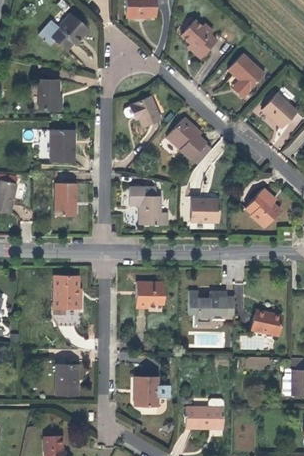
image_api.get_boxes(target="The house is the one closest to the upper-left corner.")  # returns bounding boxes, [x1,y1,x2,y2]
[38,13,90,52]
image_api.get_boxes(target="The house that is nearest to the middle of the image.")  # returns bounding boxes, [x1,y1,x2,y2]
[130,186,169,226]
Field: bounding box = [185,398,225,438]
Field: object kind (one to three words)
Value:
house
